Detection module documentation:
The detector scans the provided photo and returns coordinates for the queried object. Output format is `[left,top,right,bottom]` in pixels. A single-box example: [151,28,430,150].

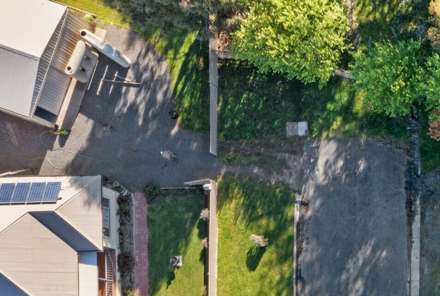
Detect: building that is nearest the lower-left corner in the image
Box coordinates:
[0,174,123,296]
